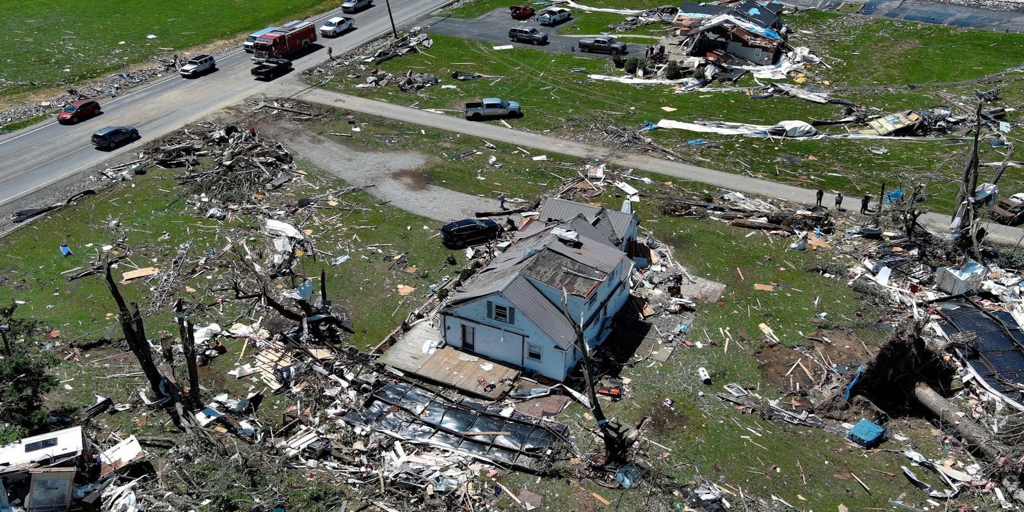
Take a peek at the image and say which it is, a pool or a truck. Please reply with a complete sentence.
Visible in the photo is a truck.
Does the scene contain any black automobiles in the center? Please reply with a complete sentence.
Yes, there is a black automobile in the center.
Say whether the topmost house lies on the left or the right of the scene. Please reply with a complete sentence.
It is on the right.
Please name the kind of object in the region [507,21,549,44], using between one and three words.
car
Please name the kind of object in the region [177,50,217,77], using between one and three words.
car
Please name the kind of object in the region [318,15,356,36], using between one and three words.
truck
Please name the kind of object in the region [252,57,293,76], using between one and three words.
vehicle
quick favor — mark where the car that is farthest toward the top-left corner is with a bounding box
[55,96,104,122]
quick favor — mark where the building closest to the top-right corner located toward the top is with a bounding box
[675,0,789,65]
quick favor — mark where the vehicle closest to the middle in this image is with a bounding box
[437,212,503,247]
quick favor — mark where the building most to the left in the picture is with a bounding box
[432,192,652,382]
